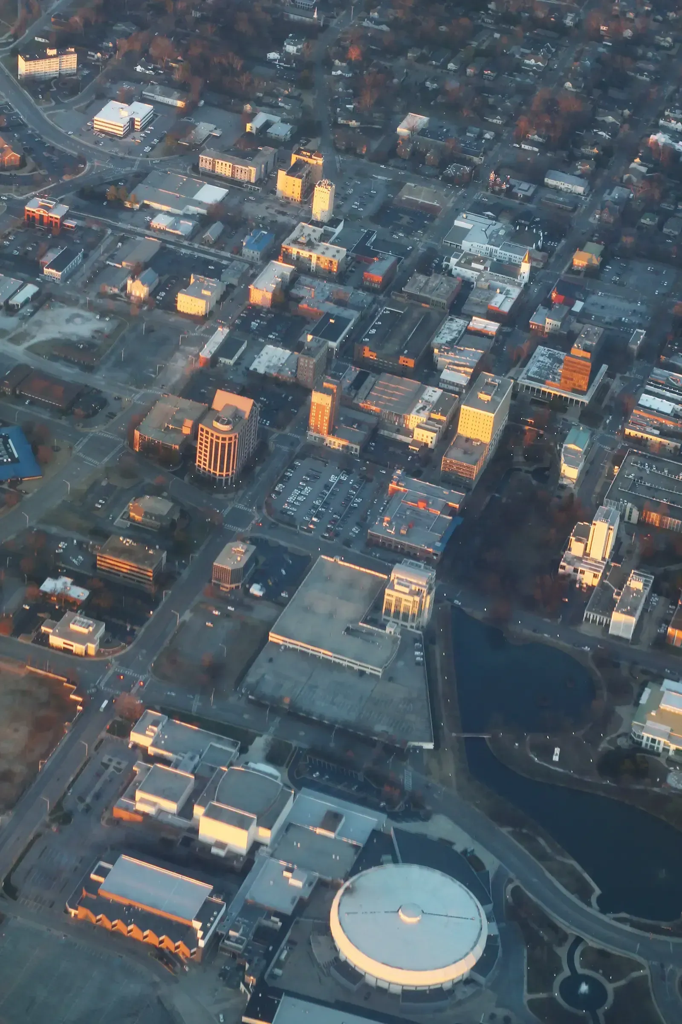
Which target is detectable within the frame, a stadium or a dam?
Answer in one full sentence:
The image shows a stadium.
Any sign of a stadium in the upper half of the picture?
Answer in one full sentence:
No, there's no stadium to be seen in the upper half of the picture.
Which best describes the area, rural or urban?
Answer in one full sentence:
The area is urban.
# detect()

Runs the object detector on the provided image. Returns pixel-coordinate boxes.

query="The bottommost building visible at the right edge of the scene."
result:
[630,679,682,760]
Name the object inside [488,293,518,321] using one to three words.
building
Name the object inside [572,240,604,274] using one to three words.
house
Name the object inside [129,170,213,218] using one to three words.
building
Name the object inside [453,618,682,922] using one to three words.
pond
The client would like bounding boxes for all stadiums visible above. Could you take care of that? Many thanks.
[315,833,501,1008]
